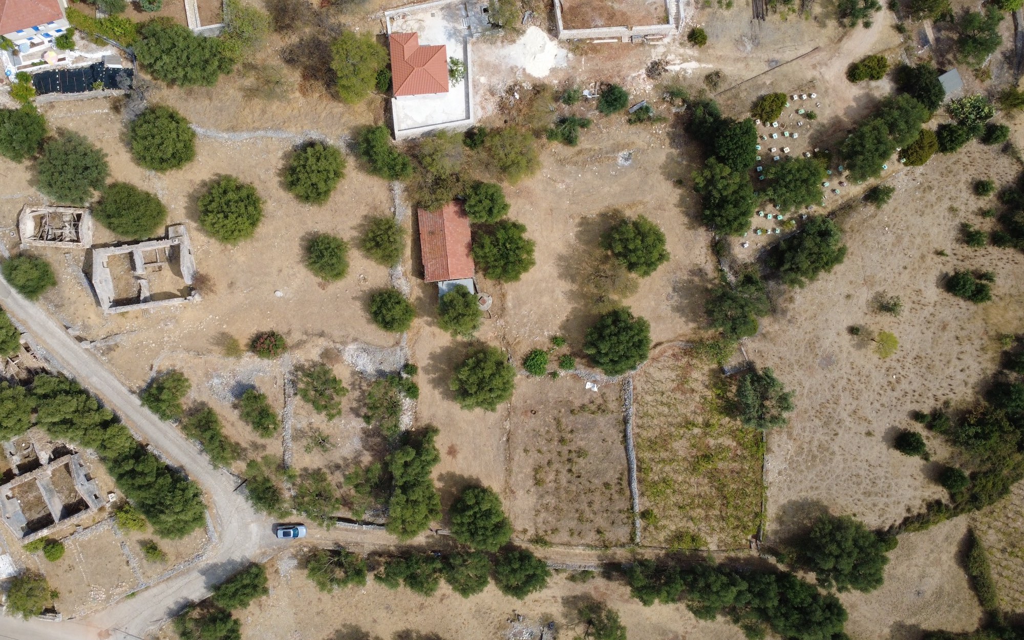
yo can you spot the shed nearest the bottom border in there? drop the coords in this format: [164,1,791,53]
[0,546,28,578]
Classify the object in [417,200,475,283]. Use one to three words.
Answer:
barn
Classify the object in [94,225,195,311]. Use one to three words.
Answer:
house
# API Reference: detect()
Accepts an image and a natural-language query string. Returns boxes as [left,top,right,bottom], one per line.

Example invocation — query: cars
[278,524,308,540]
